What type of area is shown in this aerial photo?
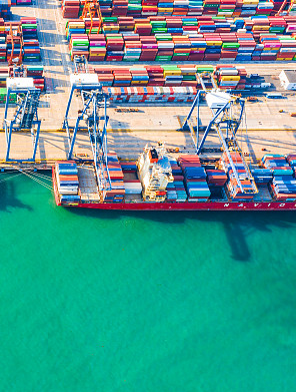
port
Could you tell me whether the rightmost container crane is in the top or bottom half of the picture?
top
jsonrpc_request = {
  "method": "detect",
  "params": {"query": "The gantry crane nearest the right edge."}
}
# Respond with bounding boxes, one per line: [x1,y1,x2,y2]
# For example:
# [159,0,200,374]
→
[178,49,264,185]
